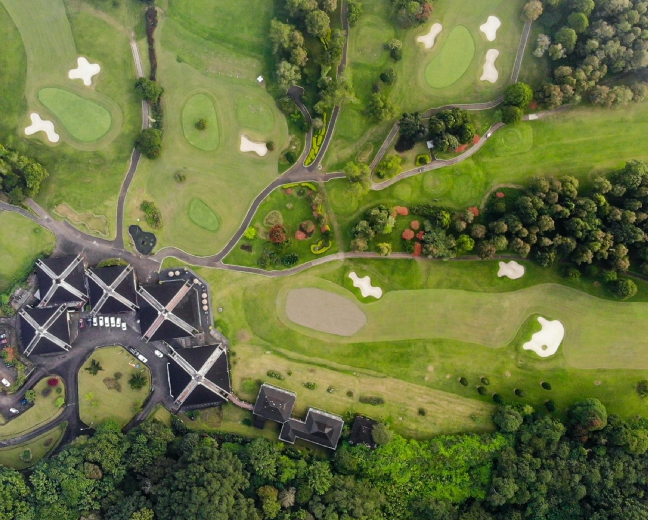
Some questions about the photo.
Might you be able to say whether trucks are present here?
No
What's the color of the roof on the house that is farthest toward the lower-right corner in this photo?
black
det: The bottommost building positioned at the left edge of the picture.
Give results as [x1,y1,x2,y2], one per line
[16,300,75,358]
